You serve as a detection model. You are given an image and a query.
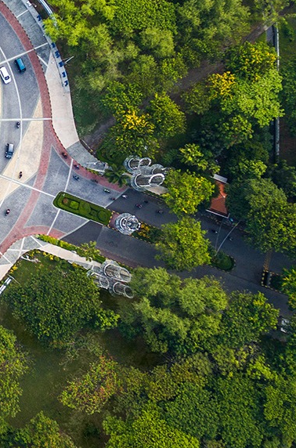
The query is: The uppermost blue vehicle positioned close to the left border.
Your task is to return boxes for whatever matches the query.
[14,54,28,74]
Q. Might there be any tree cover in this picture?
Yes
